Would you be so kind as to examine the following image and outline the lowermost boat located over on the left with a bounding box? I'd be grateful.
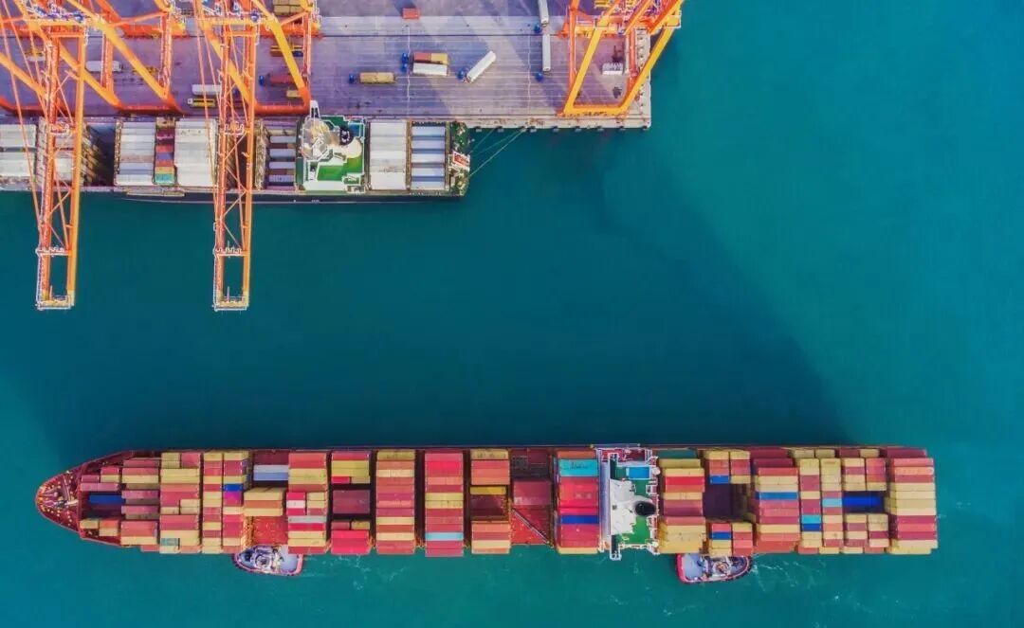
[230,544,305,578]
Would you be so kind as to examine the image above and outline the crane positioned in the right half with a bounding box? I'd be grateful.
[556,0,685,114]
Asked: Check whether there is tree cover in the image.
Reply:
No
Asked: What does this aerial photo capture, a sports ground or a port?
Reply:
port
